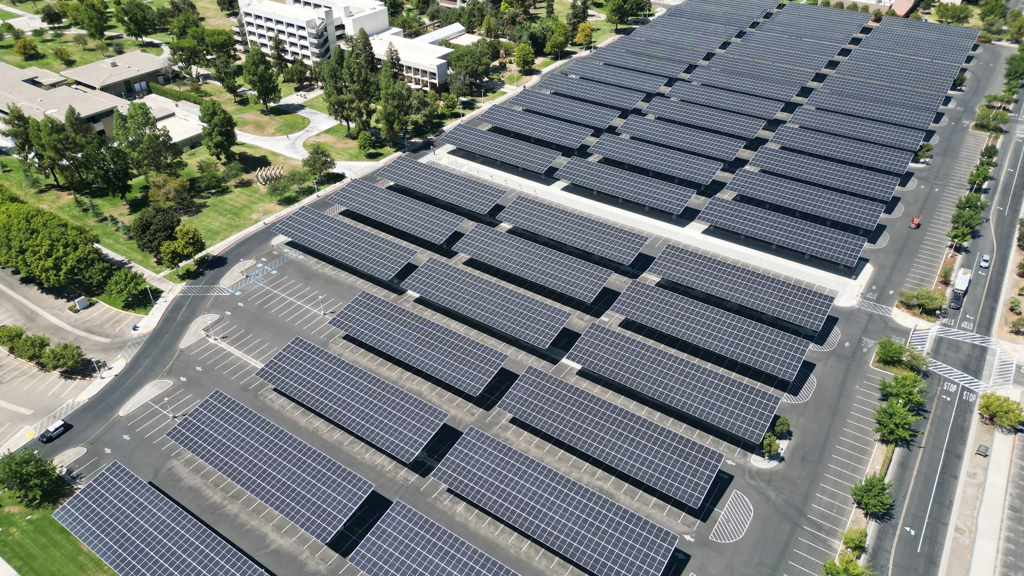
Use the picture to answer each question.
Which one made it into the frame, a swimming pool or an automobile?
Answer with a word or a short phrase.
automobile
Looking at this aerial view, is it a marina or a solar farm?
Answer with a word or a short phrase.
solar farm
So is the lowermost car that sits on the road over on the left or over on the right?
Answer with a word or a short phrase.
left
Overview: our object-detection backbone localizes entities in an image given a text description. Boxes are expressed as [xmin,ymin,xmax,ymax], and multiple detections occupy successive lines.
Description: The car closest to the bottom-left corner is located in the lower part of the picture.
[38,415,73,441]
